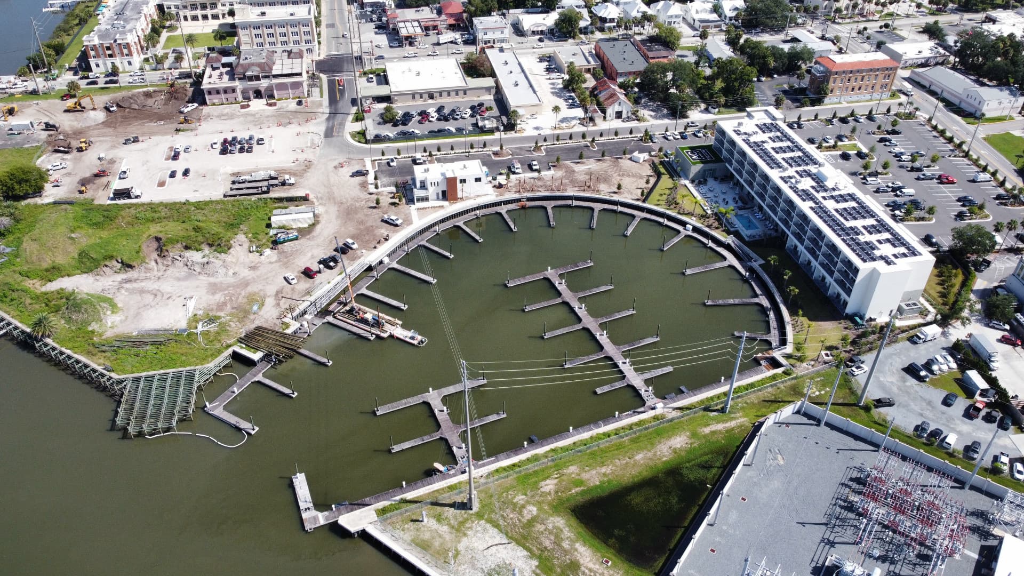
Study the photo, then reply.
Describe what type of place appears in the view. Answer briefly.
port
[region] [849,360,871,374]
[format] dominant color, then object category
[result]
white car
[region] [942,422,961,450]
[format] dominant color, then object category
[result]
white vehicle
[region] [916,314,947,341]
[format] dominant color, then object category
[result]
white truck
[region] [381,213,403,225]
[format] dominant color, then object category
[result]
white vehicle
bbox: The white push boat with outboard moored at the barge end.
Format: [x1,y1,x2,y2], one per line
[392,326,427,343]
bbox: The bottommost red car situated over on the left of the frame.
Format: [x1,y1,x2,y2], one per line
[302,264,317,277]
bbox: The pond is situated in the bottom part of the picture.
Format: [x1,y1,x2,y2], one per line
[579,459,736,571]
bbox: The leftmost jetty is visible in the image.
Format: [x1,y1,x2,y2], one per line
[203,360,298,436]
